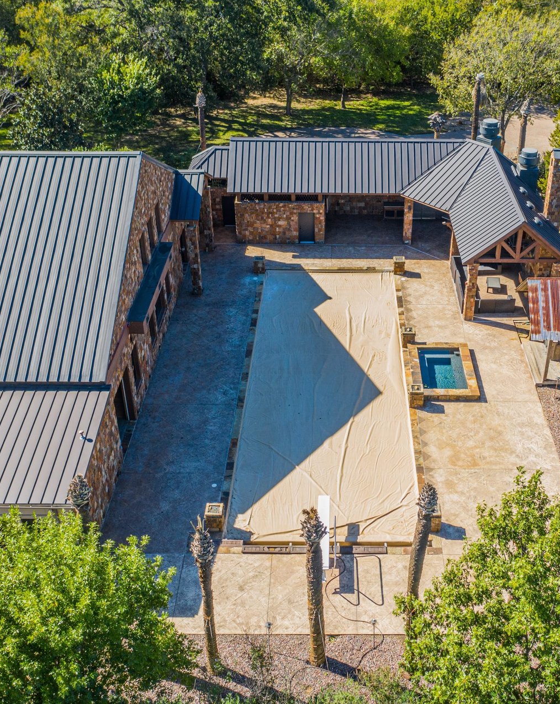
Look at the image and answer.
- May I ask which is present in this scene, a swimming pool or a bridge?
swimming pool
